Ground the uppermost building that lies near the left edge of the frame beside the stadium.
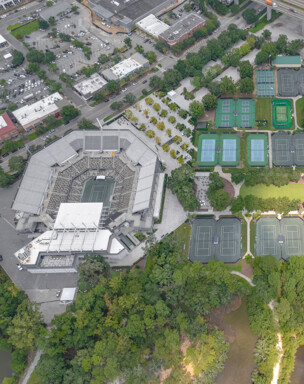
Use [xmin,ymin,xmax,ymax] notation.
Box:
[12,93,66,130]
